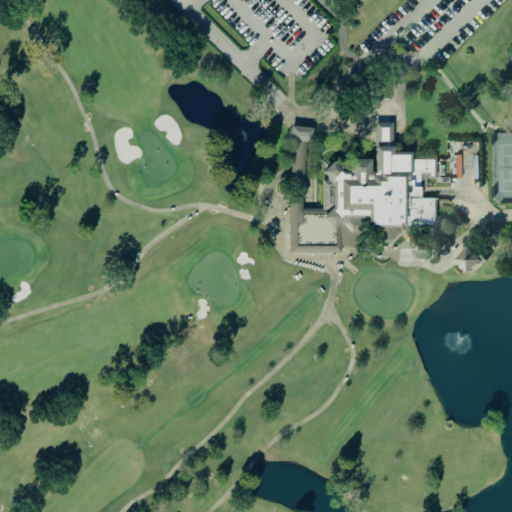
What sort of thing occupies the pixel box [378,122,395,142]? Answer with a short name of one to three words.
building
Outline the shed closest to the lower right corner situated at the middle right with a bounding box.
[456,248,484,272]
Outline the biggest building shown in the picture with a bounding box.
[291,146,438,252]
